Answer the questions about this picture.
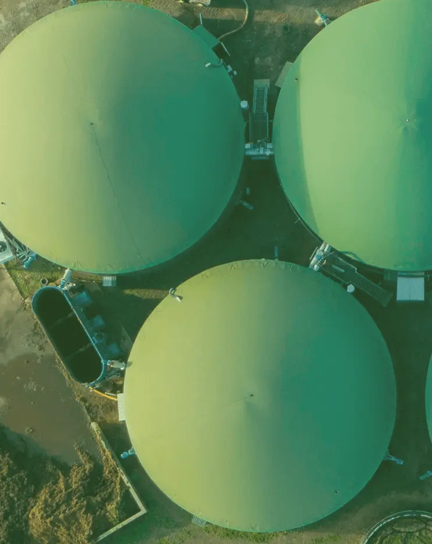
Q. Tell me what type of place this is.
industrial area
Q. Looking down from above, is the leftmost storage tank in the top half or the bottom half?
top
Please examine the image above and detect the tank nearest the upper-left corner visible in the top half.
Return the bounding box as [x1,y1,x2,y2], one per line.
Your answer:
[0,1,259,280]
